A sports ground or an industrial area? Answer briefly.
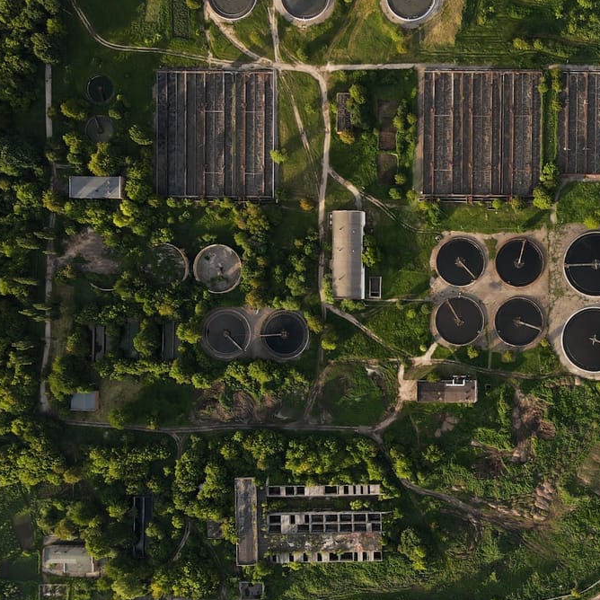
industrial area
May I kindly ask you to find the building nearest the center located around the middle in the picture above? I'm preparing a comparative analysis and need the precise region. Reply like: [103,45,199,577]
[331,211,364,299]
